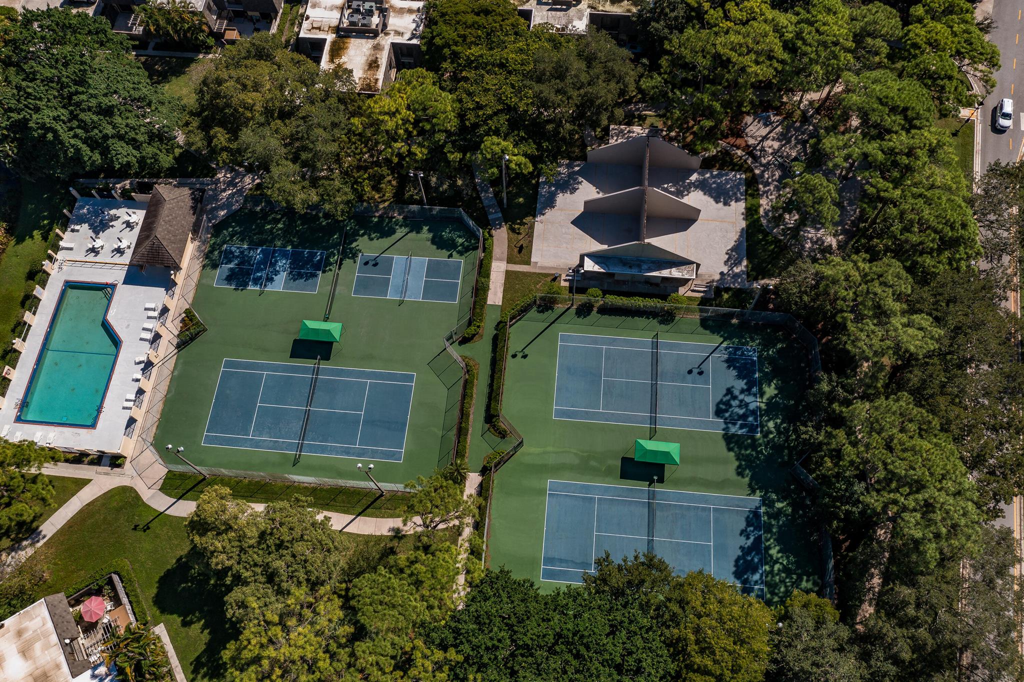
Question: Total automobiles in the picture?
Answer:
1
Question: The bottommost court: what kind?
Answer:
tennis court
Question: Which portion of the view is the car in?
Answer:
top right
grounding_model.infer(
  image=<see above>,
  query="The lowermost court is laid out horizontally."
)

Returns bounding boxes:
[542,480,764,595]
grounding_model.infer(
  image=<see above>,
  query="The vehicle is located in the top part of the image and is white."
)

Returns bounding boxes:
[997,98,1018,131]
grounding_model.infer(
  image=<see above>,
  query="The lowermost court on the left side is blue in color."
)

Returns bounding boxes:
[202,359,415,462]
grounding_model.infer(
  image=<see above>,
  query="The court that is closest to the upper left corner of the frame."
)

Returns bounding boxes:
[214,245,326,293]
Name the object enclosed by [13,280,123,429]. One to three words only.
swimming pool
